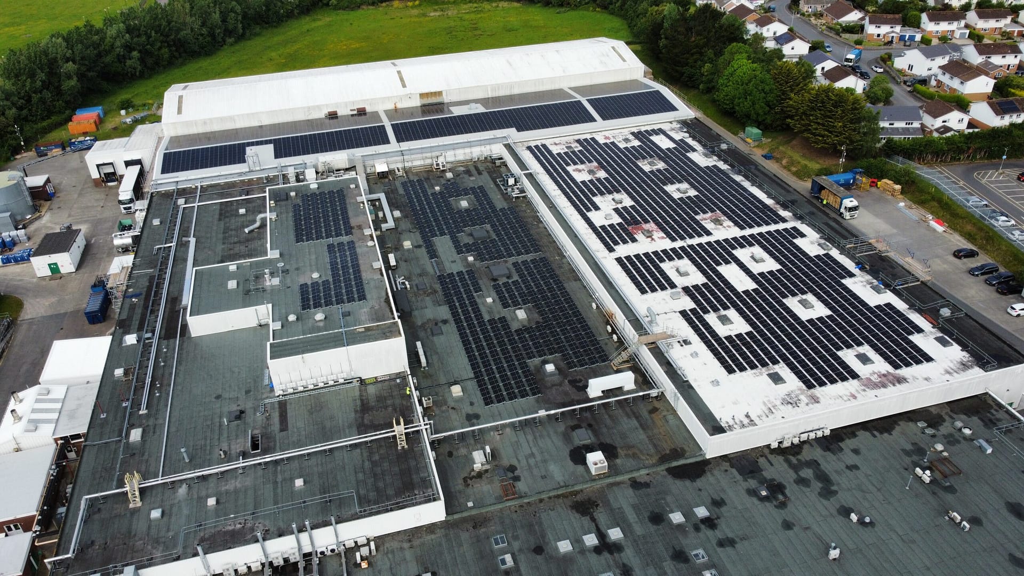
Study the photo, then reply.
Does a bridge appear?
Yes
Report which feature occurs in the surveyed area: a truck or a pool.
truck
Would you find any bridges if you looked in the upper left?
No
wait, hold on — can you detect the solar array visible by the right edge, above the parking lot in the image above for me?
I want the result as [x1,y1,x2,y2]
[994,98,1020,111]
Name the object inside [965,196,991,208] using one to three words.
vehicle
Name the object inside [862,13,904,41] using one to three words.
house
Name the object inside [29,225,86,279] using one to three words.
shed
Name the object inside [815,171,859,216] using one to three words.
truck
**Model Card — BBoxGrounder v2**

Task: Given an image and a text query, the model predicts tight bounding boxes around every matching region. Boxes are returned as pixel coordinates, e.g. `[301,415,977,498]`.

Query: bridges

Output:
[611,320,678,367]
